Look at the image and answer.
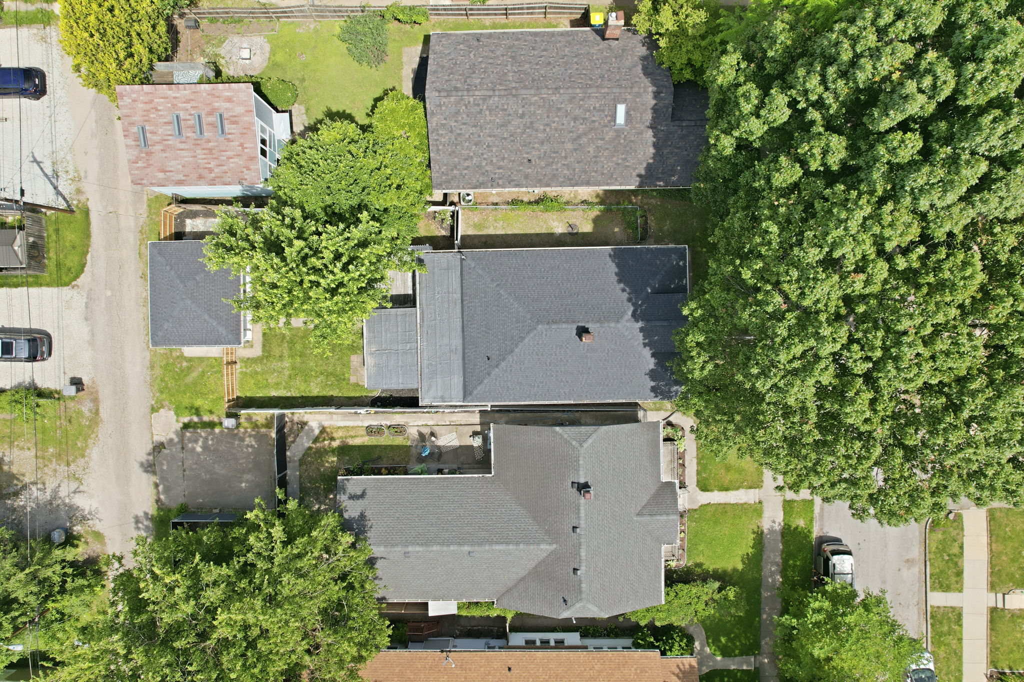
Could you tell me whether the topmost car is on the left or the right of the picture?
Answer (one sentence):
It is on the left.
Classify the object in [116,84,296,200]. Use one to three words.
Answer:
building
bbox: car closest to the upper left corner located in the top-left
[0,66,49,102]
